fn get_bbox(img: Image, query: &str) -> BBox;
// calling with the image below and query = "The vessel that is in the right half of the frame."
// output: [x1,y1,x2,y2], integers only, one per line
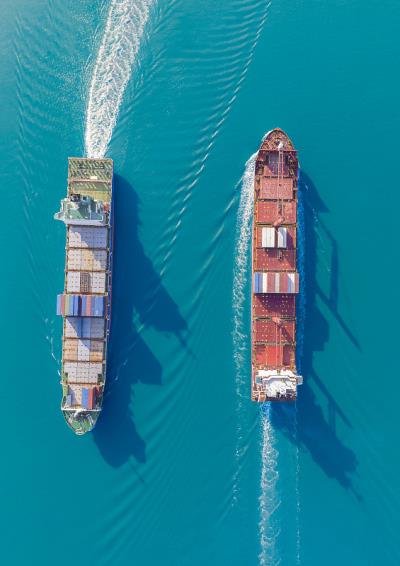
[251,127,305,407]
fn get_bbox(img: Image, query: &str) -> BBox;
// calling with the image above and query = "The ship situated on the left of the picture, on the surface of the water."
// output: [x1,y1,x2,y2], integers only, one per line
[52,156,115,436]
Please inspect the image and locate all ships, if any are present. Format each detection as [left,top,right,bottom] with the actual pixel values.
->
[251,127,305,407]
[52,156,115,436]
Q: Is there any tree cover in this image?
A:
No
